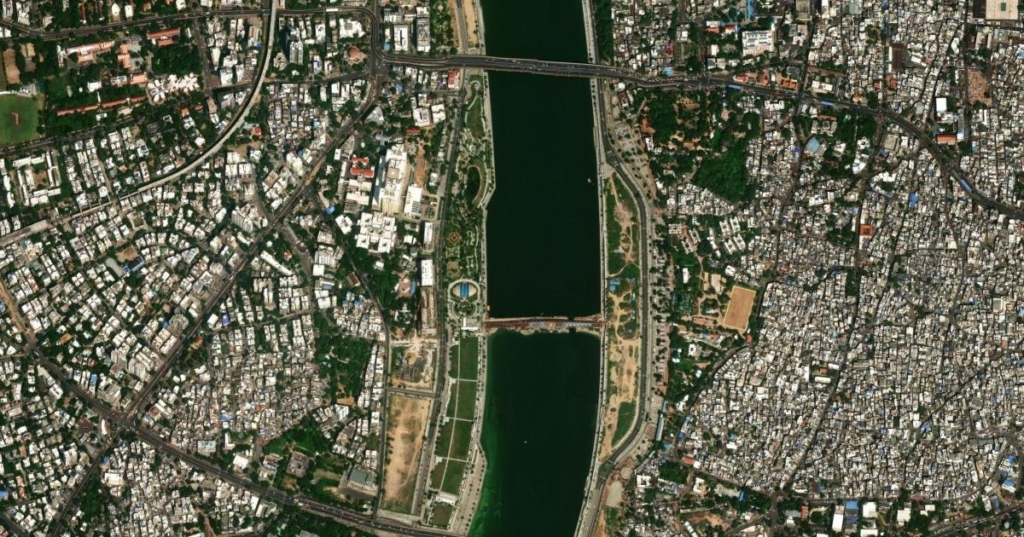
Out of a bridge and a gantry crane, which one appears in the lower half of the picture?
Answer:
bridge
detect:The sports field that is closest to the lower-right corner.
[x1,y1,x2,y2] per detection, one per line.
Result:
[723,285,756,332]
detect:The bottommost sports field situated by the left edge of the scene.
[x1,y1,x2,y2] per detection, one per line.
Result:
[0,95,38,144]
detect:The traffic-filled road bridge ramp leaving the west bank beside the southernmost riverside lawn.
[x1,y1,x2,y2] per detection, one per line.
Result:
[287,498,495,537]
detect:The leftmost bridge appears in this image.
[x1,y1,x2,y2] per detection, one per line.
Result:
[48,0,277,227]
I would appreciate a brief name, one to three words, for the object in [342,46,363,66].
building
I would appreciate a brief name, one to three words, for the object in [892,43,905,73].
building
